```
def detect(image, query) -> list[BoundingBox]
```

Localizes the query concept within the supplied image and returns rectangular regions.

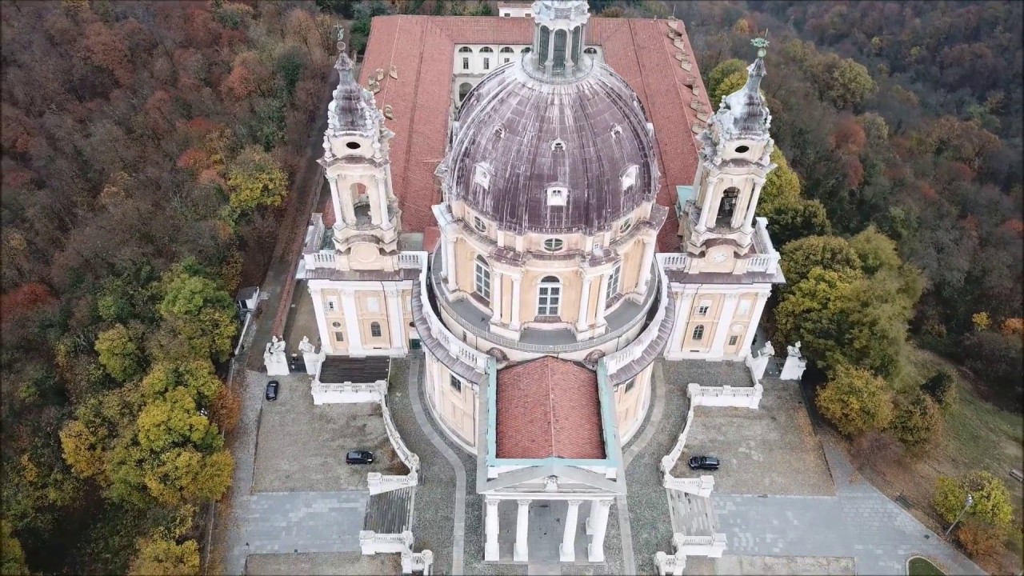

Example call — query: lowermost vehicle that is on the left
[346,450,374,464]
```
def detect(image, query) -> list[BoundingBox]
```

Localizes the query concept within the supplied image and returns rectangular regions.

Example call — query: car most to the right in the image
[688,455,720,470]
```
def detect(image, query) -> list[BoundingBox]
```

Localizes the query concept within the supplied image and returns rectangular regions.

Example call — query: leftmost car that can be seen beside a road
[265,380,279,401]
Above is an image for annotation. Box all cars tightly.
[346,450,374,464]
[265,380,279,401]
[688,455,720,470]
